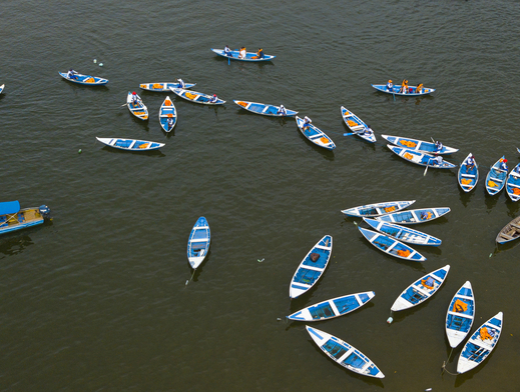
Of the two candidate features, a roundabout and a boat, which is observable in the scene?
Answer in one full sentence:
Looking from above, you can make out a boat.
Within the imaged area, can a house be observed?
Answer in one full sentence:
No, there's no house here.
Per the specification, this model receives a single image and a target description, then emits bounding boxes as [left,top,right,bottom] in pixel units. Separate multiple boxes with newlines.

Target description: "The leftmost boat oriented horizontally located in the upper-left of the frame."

[59,72,108,87]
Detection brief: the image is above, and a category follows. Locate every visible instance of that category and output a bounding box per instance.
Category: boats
[459,155,479,194]
[291,235,333,300]
[357,227,426,264]
[341,200,416,218]
[373,208,451,225]
[97,137,166,151]
[286,292,374,323]
[127,92,150,122]
[507,163,520,204]
[158,96,179,135]
[381,135,459,155]
[188,216,211,272]
[170,88,226,107]
[458,312,502,376]
[211,49,276,62]
[0,198,56,233]
[445,280,475,350]
[495,215,520,245]
[363,217,442,248]
[296,117,335,151]
[387,144,456,170]
[391,265,449,314]
[59,72,108,87]
[486,156,509,198]
[235,100,299,118]
[371,84,435,96]
[341,106,376,144]
[306,325,384,380]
